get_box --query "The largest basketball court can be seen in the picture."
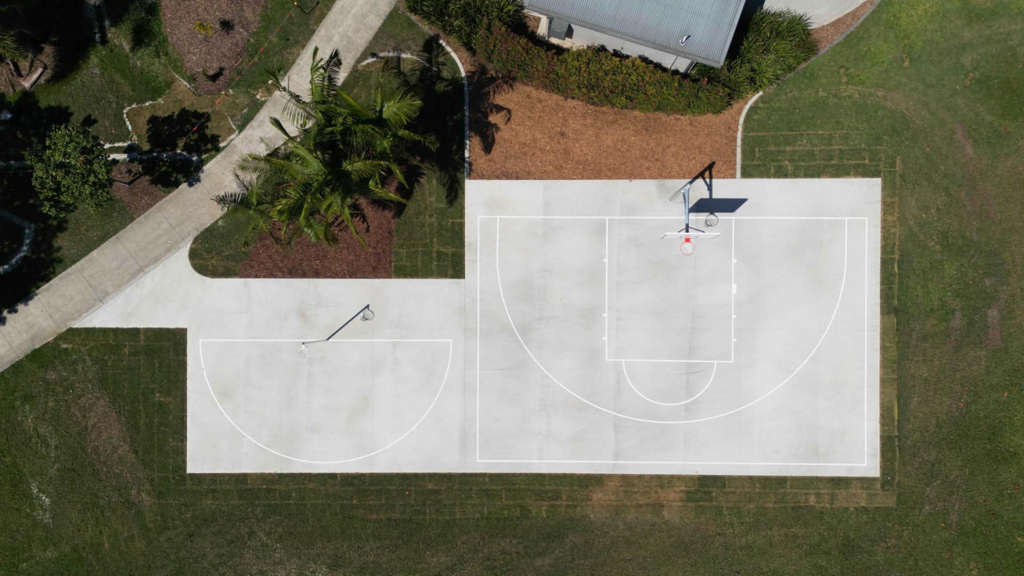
[463,178,881,477]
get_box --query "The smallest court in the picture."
[187,328,464,473]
